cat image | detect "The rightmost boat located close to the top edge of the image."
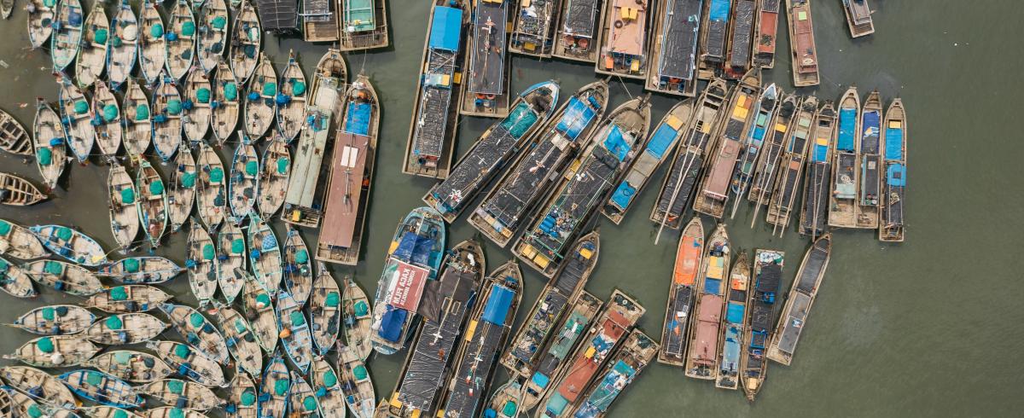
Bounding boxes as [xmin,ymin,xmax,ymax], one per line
[843,0,876,38]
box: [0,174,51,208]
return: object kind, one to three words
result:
boat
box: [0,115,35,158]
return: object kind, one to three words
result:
boat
